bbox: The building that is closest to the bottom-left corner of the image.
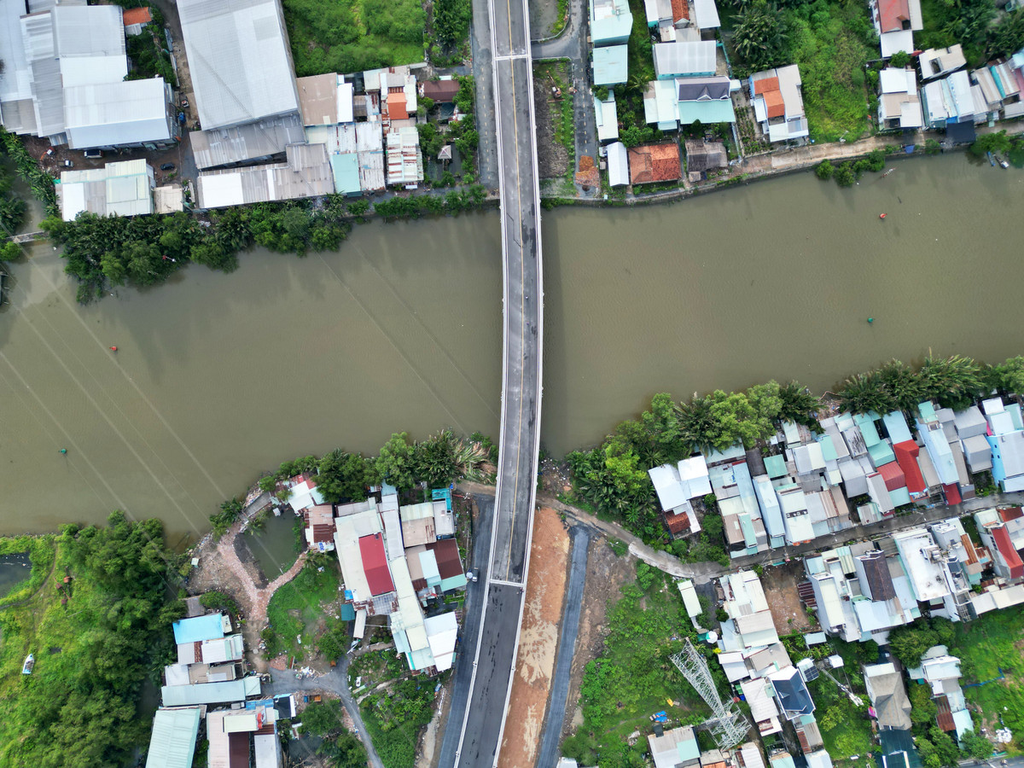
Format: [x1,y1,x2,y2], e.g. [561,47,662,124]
[145,701,211,768]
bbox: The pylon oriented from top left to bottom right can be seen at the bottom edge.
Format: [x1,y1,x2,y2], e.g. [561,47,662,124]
[671,639,753,747]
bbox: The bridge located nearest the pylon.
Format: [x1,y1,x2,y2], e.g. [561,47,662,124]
[454,0,544,768]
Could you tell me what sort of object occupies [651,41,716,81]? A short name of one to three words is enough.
building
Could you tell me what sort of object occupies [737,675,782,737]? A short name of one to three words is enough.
house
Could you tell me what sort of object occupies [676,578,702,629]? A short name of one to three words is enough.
shed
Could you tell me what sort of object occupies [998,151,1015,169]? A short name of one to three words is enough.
boat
